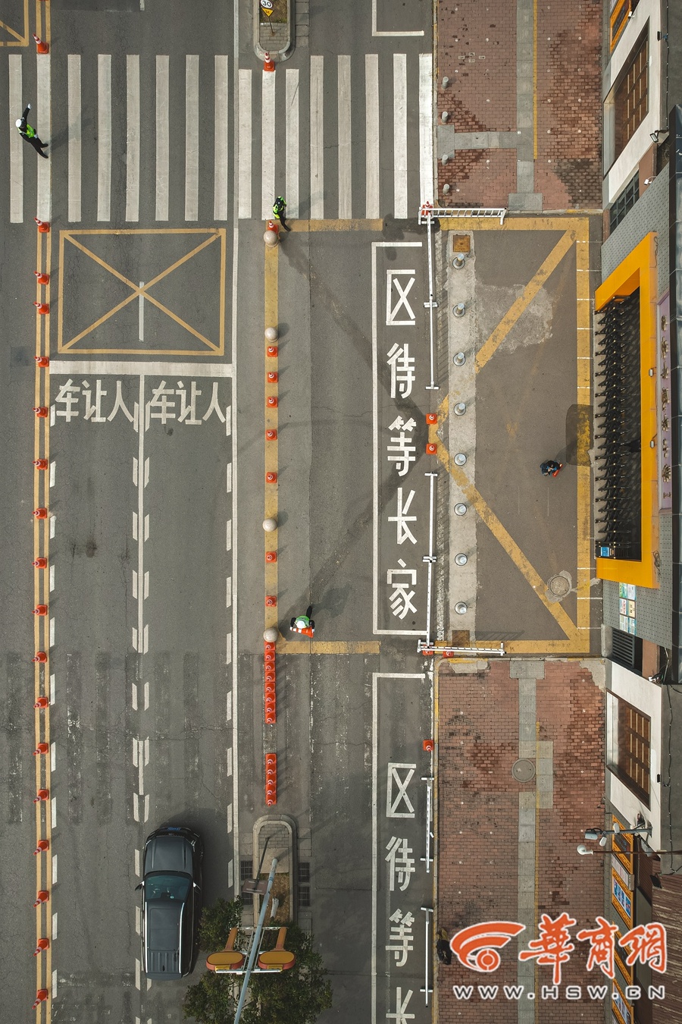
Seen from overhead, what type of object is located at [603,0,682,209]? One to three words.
building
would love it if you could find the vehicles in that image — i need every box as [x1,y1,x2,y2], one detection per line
[136,823,203,975]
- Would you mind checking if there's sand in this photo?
No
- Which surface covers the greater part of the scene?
paved ground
